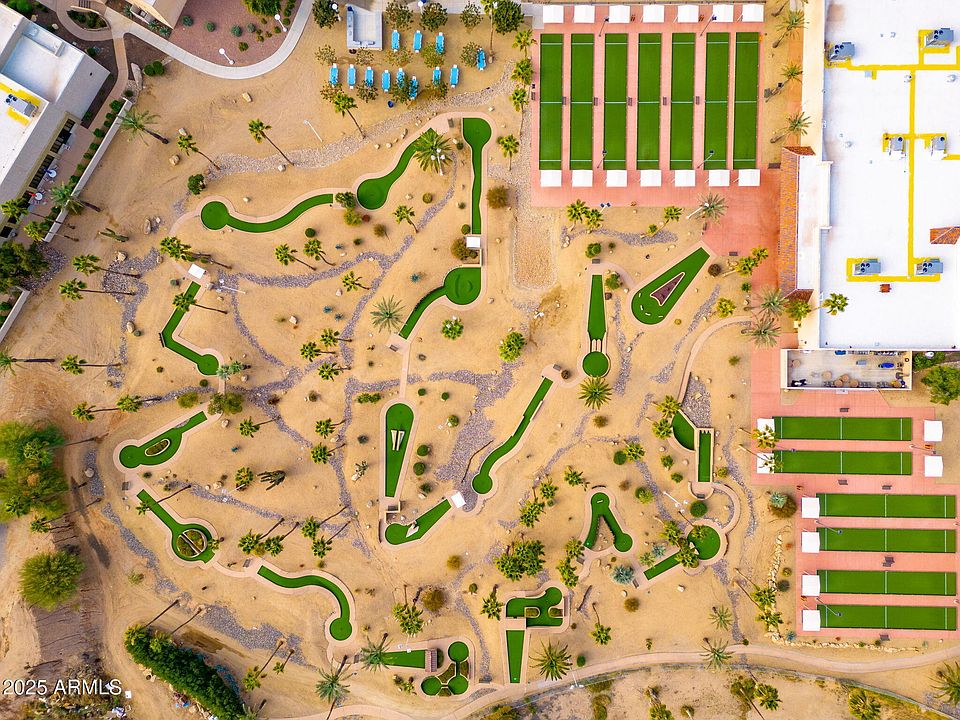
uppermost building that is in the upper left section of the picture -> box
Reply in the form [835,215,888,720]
[123,0,188,35]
